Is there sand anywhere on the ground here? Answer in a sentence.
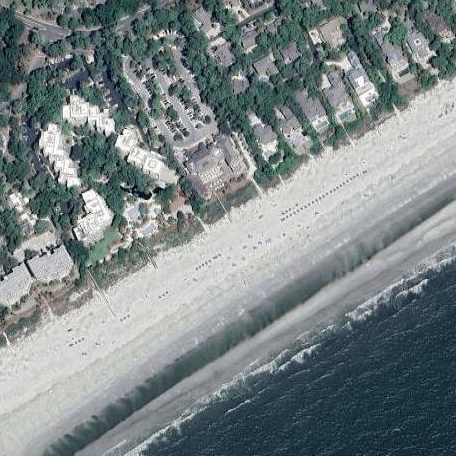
Yes, the picture does contain sand.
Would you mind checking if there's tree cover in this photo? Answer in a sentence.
Yes, the picture does contain tree cover.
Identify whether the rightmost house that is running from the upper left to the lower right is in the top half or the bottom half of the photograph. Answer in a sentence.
It is in the top half that the rightmost house that is running from the upper left to the lower right appears.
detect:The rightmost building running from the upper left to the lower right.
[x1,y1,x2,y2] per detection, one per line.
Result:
[425,6,453,39]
